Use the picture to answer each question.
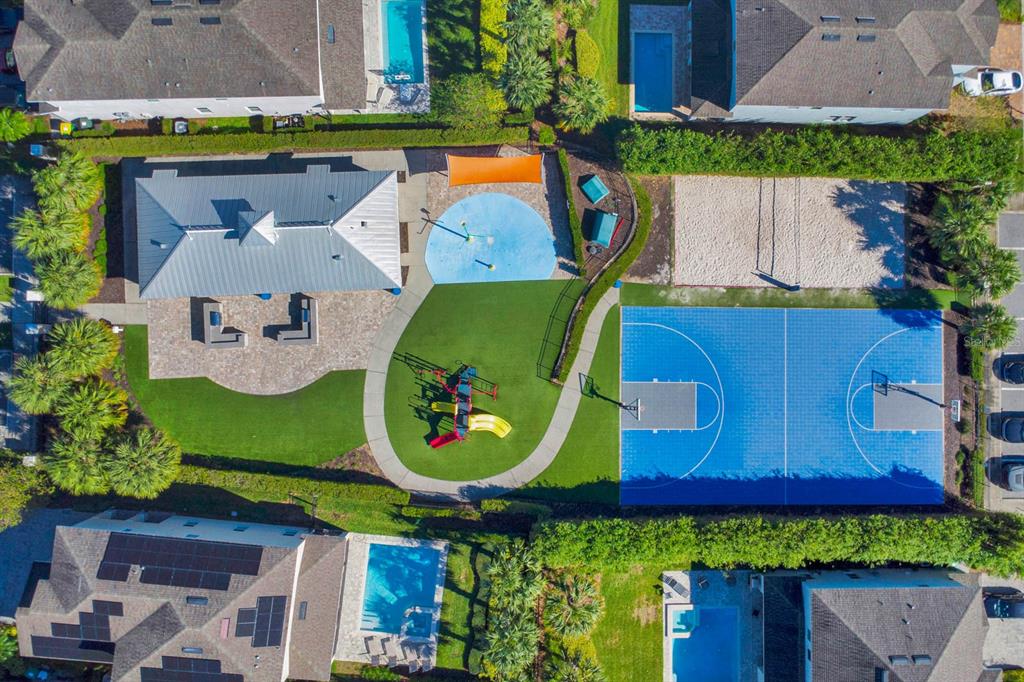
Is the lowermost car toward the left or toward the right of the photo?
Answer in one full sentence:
You can find the lowermost car on the right side of the picture.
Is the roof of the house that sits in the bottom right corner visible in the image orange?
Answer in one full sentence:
No, the roof of the house that sits in the bottom right corner is gray.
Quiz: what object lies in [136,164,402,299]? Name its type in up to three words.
building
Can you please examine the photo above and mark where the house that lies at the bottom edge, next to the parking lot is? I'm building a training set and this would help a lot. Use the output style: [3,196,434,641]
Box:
[752,568,1002,682]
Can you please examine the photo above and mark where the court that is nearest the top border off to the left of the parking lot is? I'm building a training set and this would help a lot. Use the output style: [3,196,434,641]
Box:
[674,175,908,289]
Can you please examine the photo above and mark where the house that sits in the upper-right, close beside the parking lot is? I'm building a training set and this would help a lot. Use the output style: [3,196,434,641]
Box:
[682,0,1000,129]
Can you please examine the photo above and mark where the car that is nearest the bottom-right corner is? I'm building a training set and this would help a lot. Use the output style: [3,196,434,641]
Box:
[985,589,1024,620]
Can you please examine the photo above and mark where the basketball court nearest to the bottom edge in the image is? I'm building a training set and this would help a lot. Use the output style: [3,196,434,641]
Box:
[619,305,945,505]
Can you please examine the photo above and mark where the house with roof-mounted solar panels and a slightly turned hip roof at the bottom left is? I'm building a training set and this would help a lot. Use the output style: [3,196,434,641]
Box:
[16,513,348,682]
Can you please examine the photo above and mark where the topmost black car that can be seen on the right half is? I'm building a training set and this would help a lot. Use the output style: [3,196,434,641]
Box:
[1004,360,1024,384]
